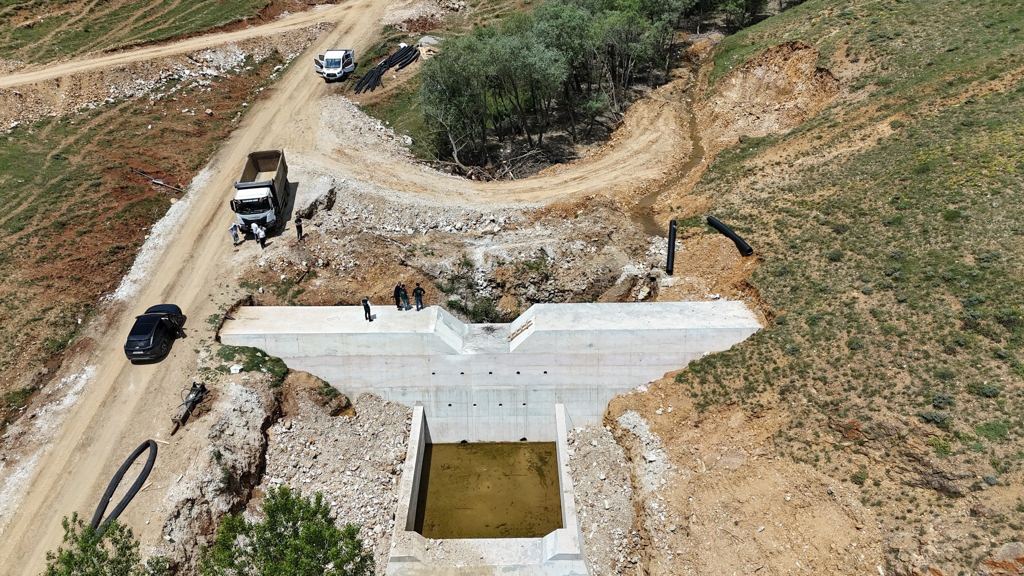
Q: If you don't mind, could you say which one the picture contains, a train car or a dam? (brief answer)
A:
dam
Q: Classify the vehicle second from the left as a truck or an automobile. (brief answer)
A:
truck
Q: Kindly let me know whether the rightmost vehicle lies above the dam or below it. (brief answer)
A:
above it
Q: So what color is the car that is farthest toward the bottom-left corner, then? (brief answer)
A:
black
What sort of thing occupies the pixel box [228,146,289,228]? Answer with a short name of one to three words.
truck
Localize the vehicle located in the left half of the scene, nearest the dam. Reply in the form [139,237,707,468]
[122,302,190,362]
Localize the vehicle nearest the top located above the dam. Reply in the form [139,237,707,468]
[317,45,357,79]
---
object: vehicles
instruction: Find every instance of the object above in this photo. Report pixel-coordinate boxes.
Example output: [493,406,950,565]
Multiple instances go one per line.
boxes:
[317,45,357,79]
[122,302,190,362]
[228,146,289,228]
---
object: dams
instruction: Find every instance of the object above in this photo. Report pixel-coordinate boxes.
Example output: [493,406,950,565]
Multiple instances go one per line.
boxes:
[217,303,765,442]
